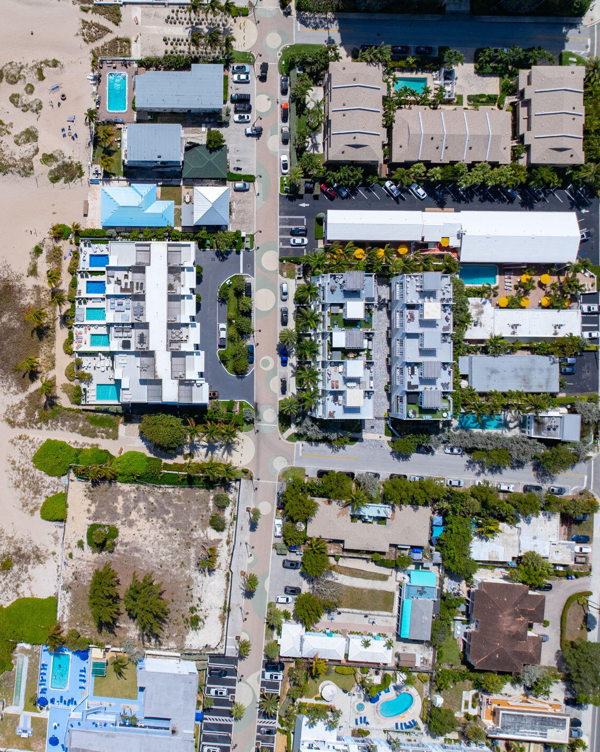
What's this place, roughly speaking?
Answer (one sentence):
This looks like a residential area.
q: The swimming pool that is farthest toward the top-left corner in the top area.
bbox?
[106,70,128,112]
